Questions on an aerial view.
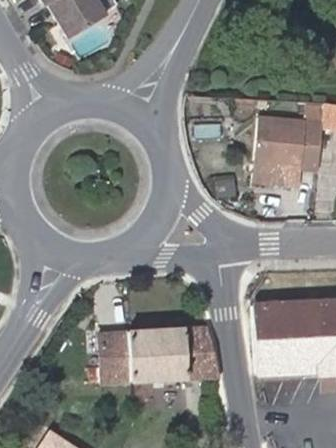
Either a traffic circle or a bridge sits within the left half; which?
traffic circle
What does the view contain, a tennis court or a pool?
pool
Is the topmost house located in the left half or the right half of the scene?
left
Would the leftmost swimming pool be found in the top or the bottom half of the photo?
top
